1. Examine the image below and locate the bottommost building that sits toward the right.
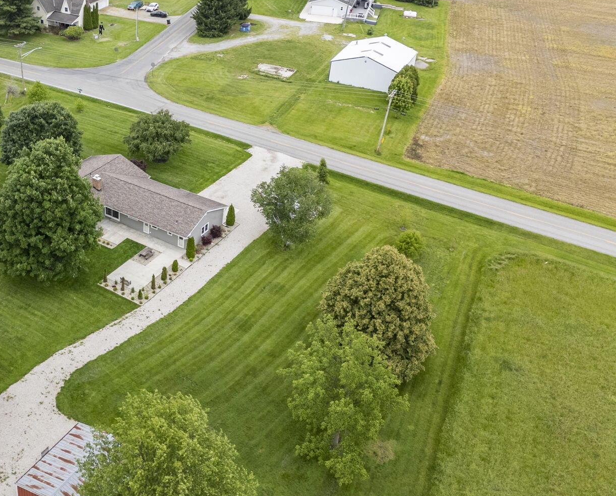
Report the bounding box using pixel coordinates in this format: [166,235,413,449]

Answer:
[328,32,418,91]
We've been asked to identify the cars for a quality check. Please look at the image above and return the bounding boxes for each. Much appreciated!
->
[149,9,169,17]
[145,2,159,11]
[127,0,143,9]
